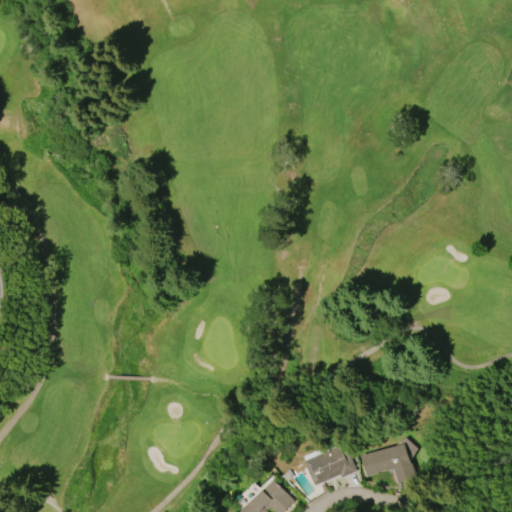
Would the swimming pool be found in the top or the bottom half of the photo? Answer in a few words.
bottom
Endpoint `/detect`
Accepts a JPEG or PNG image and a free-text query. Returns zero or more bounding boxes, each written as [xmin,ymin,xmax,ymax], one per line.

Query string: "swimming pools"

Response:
[294,473,315,496]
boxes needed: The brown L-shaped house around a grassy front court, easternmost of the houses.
[362,438,419,482]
